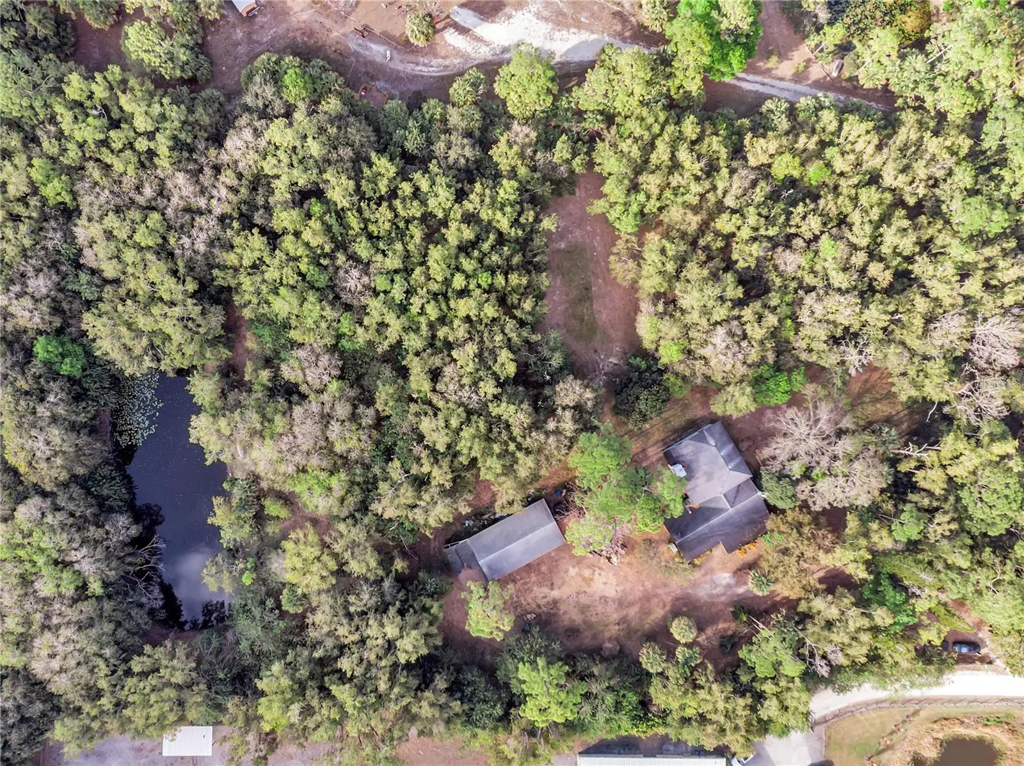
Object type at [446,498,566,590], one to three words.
shed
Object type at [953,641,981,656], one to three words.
car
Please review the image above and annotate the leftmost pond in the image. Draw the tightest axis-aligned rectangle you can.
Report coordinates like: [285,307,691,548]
[105,360,240,633]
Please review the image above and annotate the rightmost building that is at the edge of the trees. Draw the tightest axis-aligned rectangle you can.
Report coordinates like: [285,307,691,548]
[662,420,776,564]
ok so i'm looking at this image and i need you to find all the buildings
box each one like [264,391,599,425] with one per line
[446,498,566,590]
[577,751,726,766]
[662,420,776,564]
[233,0,262,23]
[162,720,217,756]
